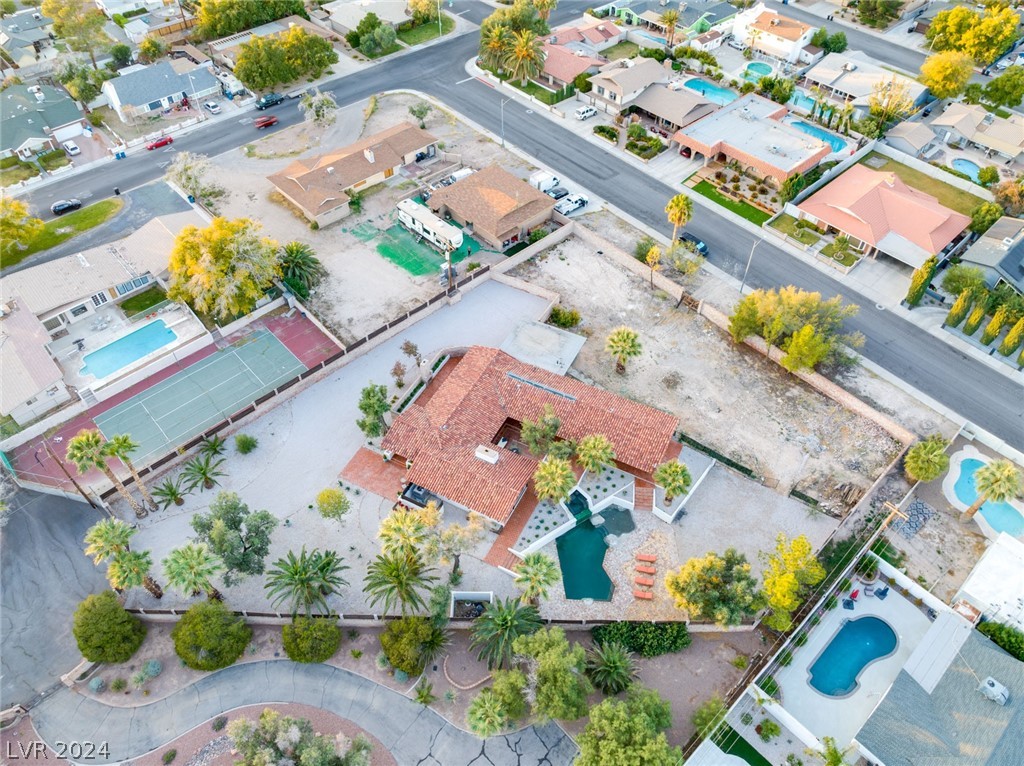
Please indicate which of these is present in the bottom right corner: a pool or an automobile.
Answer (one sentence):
You can see a pool in the bottom right corner.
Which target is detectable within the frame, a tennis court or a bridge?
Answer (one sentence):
The image shows a tennis court.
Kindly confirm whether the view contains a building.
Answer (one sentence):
Yes, you can see a building in this photo.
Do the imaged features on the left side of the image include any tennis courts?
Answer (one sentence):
Yes, a tennis court appears on the left side of the image.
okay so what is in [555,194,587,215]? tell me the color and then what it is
white vehicle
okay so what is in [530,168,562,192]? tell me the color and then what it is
white truck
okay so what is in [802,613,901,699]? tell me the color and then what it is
blue swimming pool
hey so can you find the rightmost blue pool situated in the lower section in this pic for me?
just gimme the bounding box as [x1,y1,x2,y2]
[951,455,1024,540]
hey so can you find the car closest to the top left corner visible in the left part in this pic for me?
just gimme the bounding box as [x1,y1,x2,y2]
[62,140,80,156]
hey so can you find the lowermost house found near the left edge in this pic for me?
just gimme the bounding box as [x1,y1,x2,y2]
[0,208,221,424]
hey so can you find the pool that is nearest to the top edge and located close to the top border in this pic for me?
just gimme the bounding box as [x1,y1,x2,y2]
[628,29,669,45]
